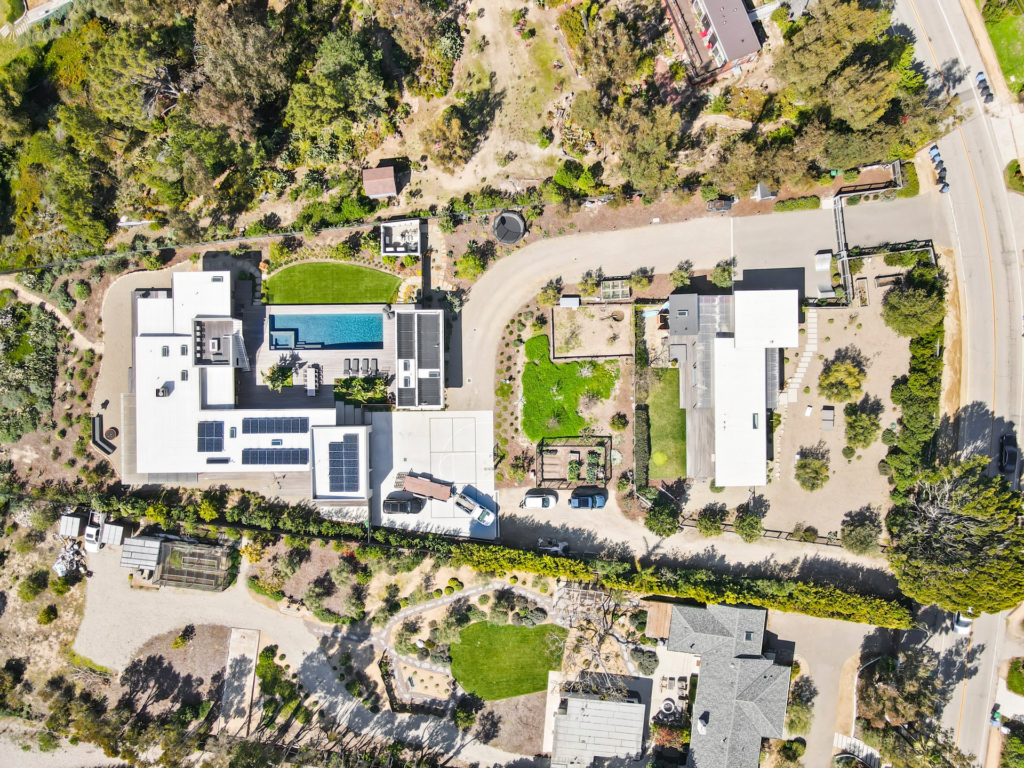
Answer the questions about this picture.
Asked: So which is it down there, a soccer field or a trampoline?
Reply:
trampoline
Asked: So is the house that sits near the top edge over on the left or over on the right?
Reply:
right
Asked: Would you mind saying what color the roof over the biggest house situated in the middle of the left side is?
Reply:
white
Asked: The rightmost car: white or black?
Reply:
black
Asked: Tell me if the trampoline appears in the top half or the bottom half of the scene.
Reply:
top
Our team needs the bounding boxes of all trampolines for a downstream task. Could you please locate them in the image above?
[492,208,525,244]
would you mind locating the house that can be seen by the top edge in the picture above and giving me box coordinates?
[696,0,761,73]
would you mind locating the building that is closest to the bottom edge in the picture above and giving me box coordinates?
[551,686,645,768]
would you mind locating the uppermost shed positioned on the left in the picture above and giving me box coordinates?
[362,166,398,199]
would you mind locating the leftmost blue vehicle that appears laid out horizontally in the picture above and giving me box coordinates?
[569,494,604,511]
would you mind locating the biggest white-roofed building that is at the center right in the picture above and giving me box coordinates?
[714,290,799,486]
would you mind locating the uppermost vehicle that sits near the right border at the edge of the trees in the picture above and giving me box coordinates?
[996,435,1017,472]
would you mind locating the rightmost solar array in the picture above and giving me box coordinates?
[329,435,358,492]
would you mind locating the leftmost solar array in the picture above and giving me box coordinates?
[198,422,223,452]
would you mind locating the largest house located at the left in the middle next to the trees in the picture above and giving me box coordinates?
[136,271,378,499]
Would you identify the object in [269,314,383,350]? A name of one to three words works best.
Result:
swimming pool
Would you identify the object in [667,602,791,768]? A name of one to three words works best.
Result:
house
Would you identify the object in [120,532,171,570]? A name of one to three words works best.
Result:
shed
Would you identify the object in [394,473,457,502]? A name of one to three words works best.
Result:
trailer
